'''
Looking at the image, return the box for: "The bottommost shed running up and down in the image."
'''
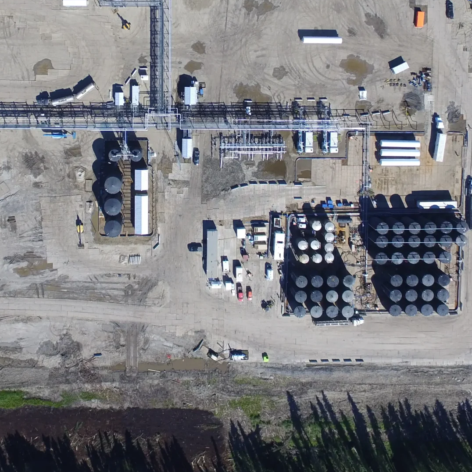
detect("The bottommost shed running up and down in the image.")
[134,192,148,236]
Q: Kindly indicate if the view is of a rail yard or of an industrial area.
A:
industrial area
